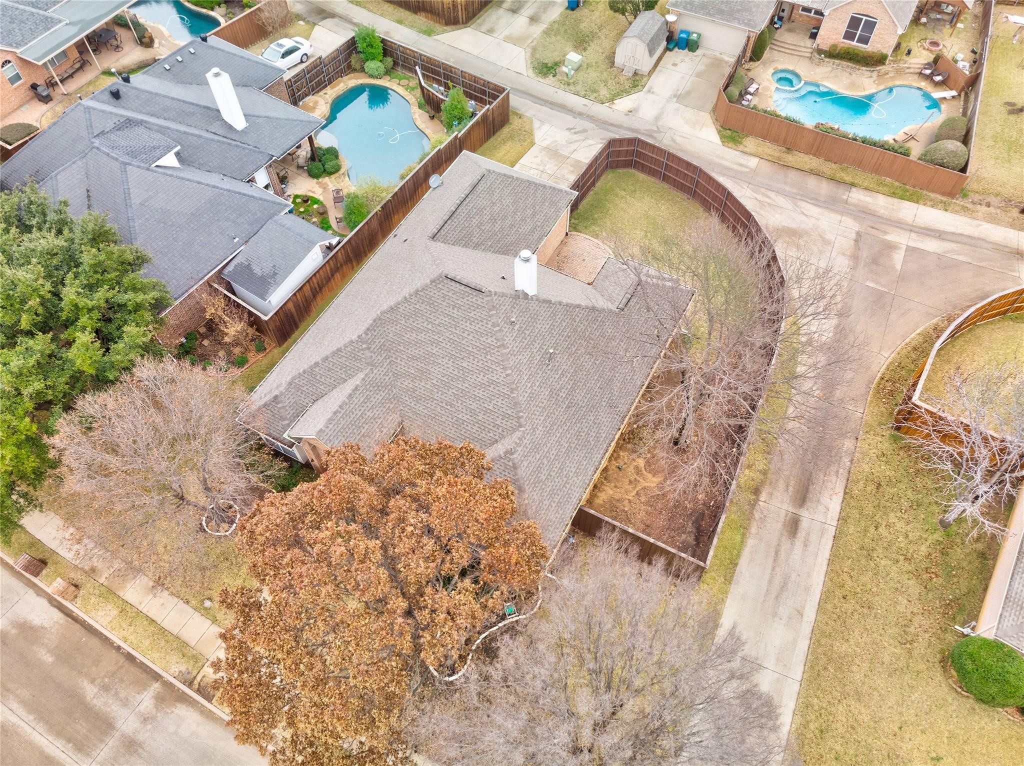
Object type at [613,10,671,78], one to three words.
shed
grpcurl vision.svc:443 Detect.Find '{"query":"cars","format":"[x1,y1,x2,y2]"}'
[257,38,314,67]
